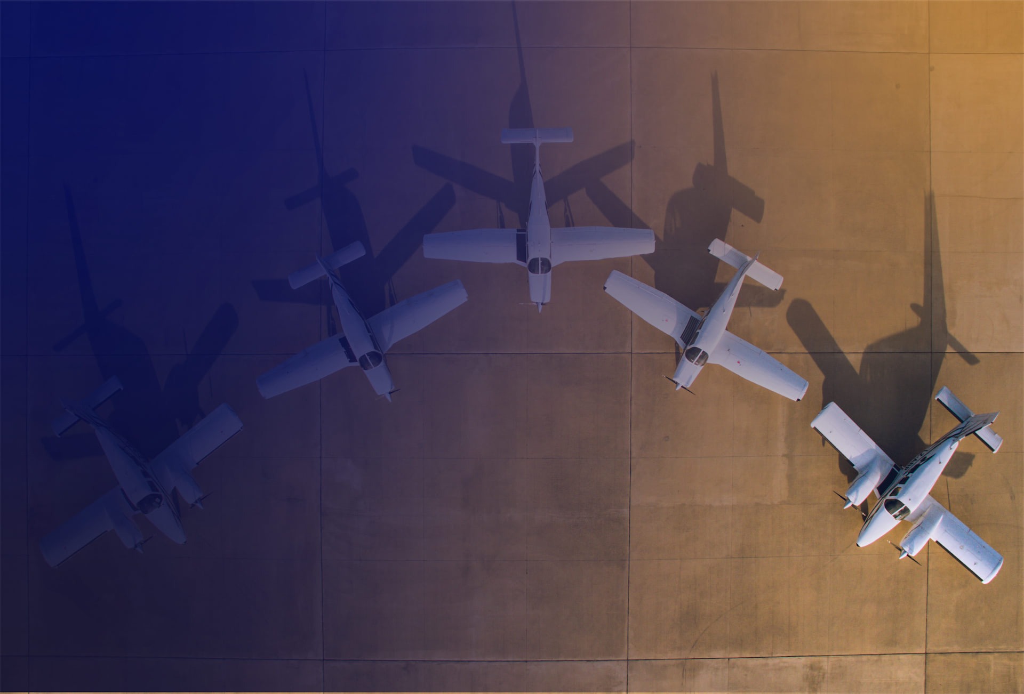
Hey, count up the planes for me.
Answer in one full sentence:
The picture shows 5 planes.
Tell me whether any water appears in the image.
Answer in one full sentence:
No, the scene doesn't show any water.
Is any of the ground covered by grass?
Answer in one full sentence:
No, there is no grass in the image.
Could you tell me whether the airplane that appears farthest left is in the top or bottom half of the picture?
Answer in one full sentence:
The airplane that appears farthest left sits in the bottom half of the picture.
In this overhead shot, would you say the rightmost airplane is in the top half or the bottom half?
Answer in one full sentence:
Seen from above, the rightmost airplane lies in the bottom half of the view.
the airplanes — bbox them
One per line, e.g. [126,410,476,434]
[39,376,242,564]
[257,241,467,401]
[813,387,1005,580]
[603,239,808,402]
[423,128,655,312]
